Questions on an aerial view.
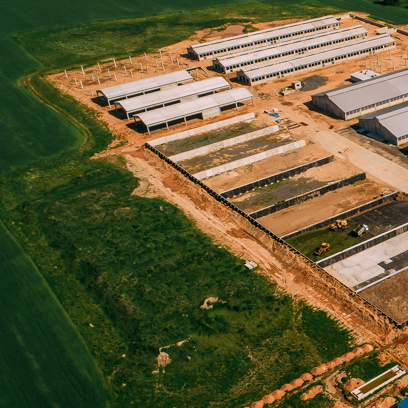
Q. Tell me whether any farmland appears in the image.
Yes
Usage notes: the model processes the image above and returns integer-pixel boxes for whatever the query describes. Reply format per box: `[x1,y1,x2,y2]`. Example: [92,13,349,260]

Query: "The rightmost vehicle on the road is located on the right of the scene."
[353,223,371,236]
